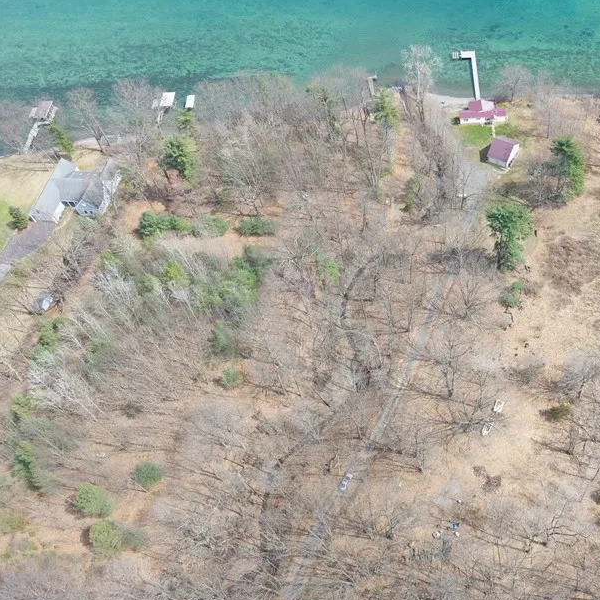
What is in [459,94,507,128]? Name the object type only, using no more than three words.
house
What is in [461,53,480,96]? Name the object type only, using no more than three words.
pier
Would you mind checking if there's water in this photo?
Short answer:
Yes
